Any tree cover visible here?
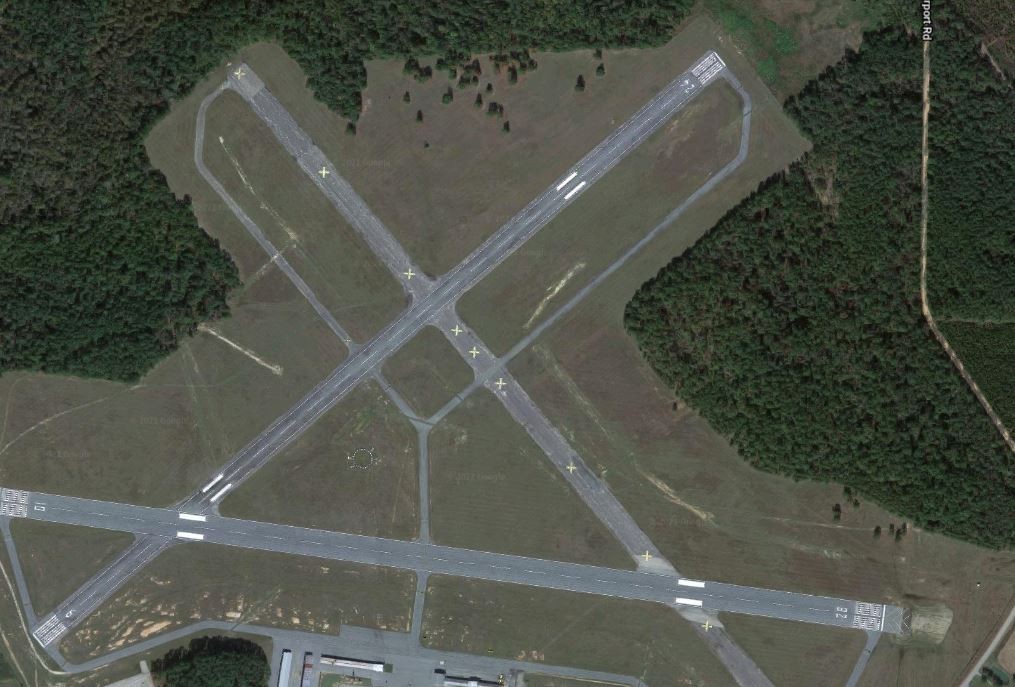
Yes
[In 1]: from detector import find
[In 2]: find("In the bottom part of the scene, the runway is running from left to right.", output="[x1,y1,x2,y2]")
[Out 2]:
[0,487,913,635]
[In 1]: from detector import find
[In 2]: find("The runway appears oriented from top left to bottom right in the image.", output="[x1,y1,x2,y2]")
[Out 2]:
[227,62,769,687]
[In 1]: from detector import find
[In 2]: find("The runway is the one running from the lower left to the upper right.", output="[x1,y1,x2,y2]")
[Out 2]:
[32,50,726,648]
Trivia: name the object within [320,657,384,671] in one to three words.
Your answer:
hangar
